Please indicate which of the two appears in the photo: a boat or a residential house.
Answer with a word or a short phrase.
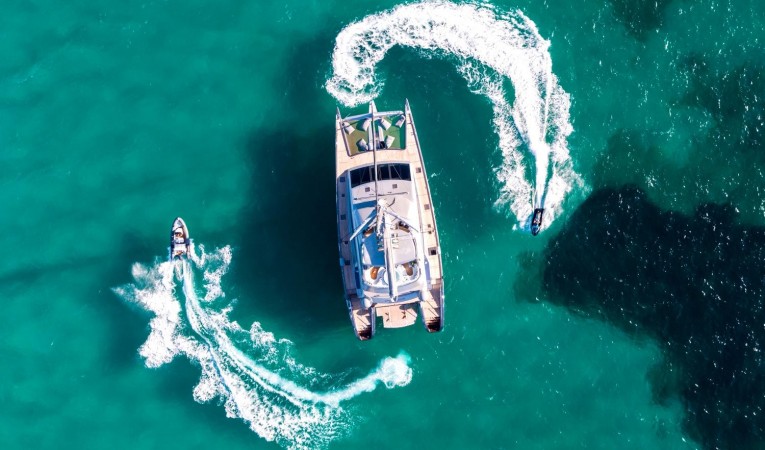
boat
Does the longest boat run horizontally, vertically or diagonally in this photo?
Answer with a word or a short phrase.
vertically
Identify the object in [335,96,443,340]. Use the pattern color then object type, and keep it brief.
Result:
white boat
